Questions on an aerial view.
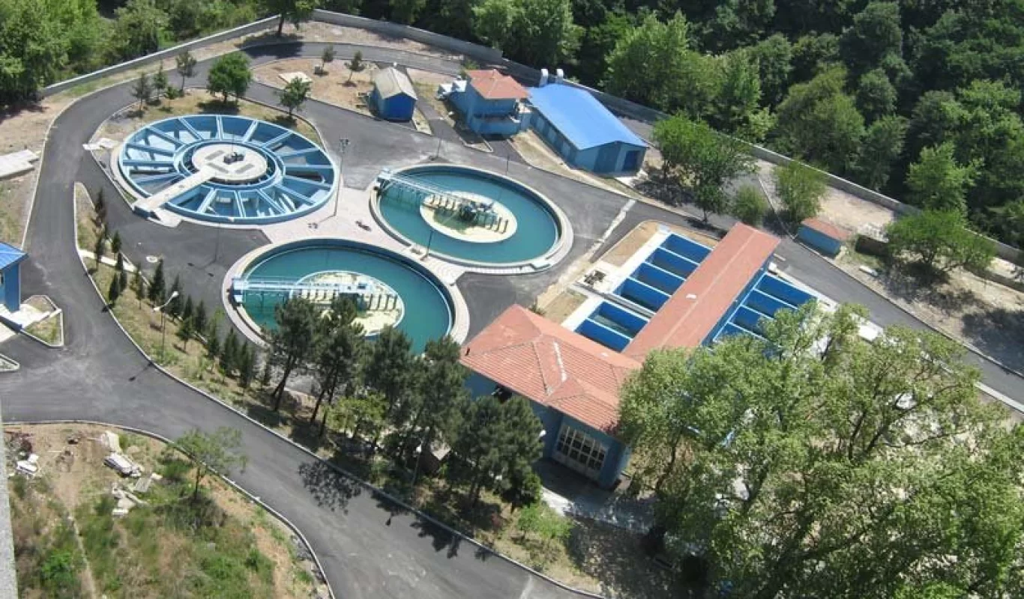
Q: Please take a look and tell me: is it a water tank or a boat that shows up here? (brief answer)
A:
water tank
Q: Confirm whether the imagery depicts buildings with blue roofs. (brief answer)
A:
Yes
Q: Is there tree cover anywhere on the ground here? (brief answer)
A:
Yes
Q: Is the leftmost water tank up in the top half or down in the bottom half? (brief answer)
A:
top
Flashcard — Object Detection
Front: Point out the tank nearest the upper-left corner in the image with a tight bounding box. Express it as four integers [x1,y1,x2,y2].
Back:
[111,115,336,231]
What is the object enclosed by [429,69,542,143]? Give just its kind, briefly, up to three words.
building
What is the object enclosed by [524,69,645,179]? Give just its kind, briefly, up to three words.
building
